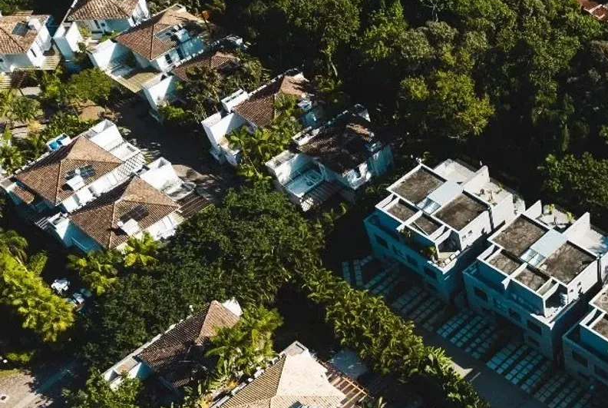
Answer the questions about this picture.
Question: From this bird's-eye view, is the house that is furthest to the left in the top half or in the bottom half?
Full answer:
The house that is furthest to the left is in the top half of the image.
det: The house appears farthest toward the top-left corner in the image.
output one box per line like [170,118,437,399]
[0,10,67,103]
